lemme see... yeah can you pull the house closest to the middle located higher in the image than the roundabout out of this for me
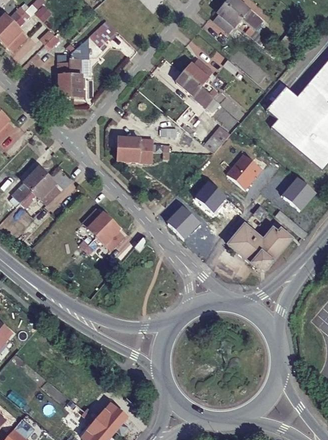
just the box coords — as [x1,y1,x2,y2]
[167,206,201,242]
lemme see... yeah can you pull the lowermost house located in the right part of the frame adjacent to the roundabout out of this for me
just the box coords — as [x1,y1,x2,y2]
[226,223,292,272]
